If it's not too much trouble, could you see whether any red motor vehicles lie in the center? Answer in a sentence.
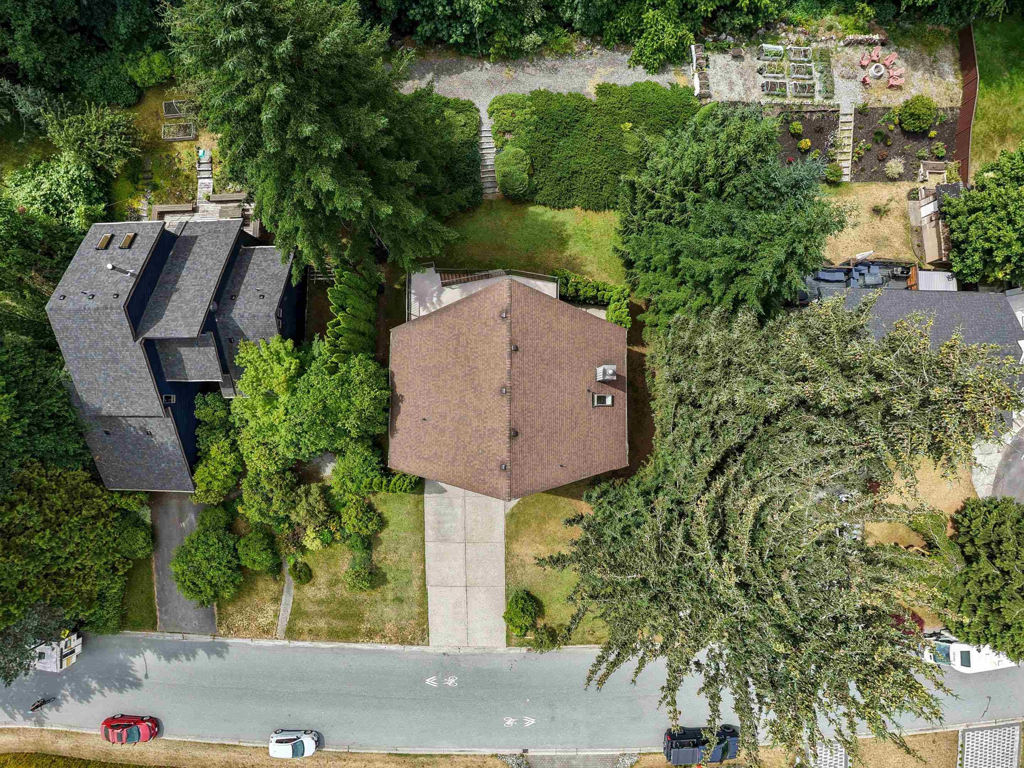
No, no red motor vehicle can be made out in the center.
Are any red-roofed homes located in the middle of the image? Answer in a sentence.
No, no red-roofed home is visible in the middle of the image.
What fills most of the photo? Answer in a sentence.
What you mostly see from above here is trees.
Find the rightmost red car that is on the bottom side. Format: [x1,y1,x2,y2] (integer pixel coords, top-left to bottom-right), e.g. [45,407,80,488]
[97,712,159,744]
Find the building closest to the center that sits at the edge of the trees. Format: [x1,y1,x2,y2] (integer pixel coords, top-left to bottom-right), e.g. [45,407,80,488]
[387,277,630,501]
